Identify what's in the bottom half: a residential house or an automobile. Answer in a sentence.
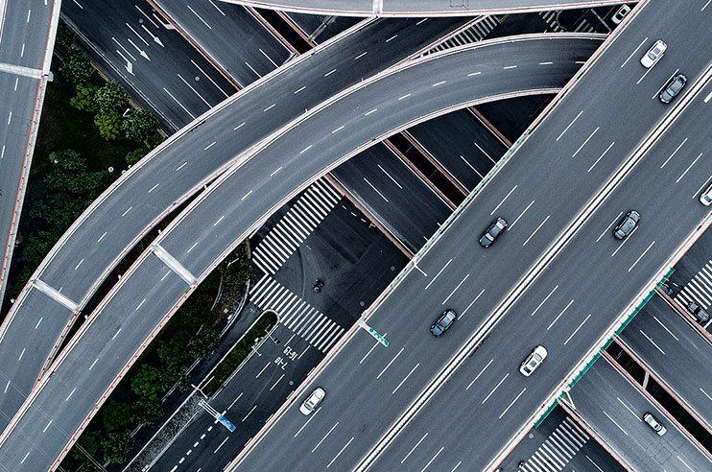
The one visible in the bottom half is an automobile.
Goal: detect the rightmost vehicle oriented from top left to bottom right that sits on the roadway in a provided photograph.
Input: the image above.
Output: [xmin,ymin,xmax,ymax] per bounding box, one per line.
[686,302,710,323]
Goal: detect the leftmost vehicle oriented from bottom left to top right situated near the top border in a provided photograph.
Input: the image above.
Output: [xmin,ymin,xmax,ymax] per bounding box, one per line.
[609,5,630,25]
